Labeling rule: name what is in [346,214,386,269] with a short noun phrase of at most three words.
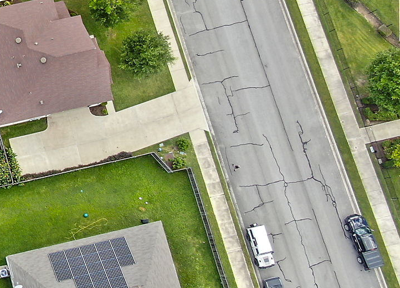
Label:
truck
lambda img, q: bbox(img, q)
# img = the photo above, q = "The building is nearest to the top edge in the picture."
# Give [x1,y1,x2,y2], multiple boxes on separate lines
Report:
[0,0,114,127]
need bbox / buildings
[0,0,114,127]
[6,220,181,288]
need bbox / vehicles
[261,274,284,288]
[346,214,386,269]
[245,223,275,268]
